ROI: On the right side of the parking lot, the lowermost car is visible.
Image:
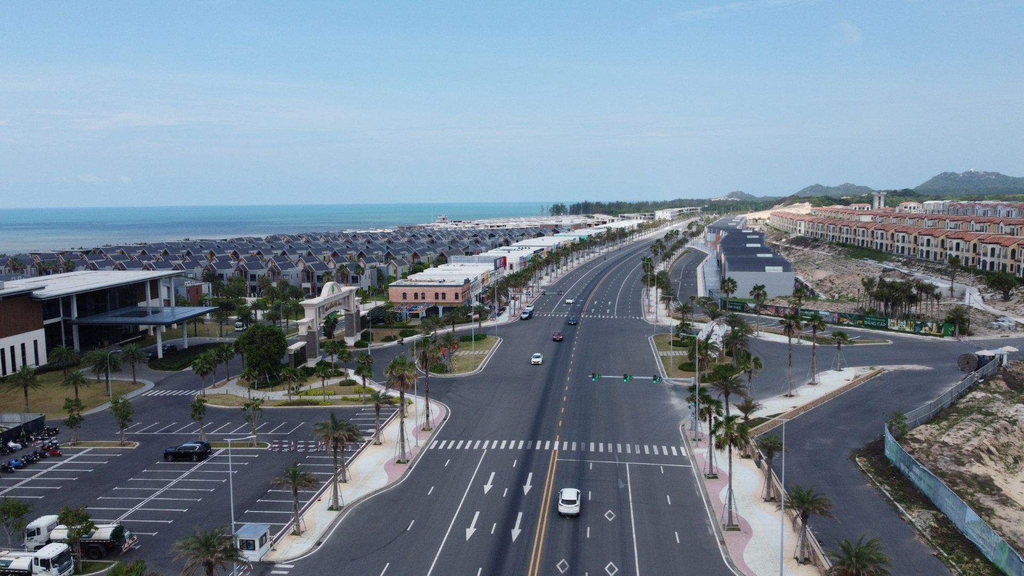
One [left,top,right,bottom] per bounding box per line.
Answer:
[558,485,583,512]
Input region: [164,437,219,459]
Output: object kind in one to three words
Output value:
car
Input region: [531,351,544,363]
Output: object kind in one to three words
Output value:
vehicle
